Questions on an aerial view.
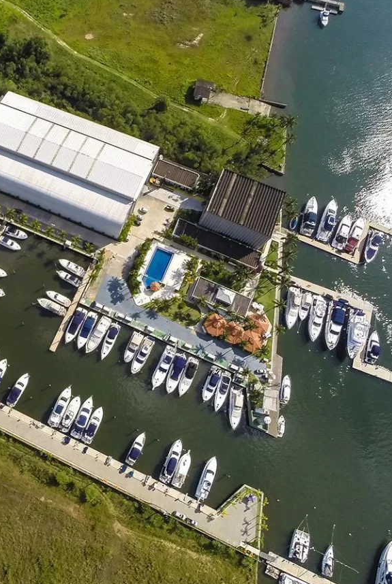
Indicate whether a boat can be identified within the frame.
Yes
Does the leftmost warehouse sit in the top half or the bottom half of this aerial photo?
top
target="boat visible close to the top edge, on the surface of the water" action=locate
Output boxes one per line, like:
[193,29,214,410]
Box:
[317,6,333,27]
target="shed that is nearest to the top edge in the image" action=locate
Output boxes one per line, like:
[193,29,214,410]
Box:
[193,79,215,102]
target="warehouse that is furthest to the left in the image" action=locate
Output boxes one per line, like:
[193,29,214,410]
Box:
[0,91,158,238]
